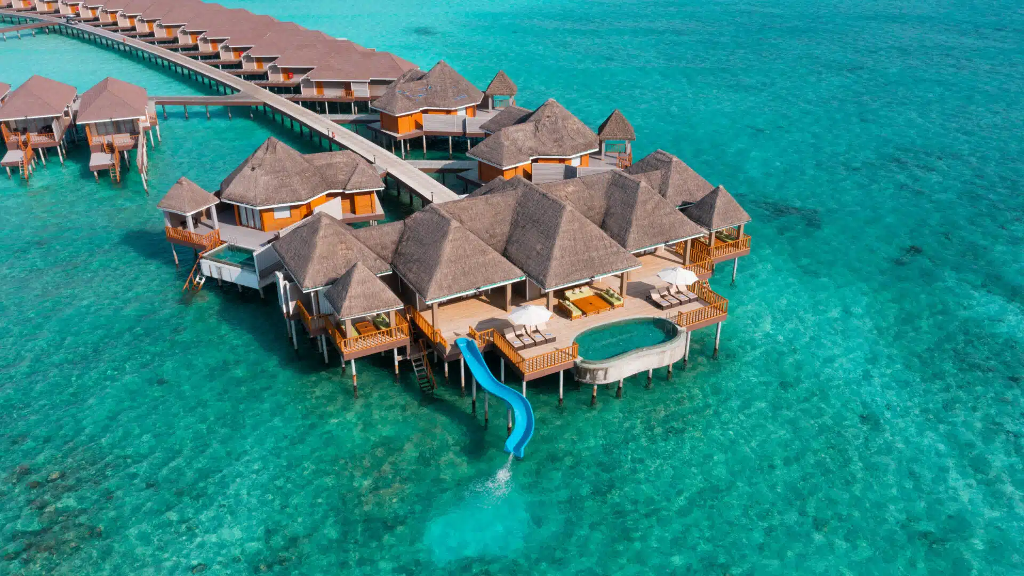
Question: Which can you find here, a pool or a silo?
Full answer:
I can see a pool in this picture.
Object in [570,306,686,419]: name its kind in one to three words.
swimming pool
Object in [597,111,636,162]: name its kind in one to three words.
gazebo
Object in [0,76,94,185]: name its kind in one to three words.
house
